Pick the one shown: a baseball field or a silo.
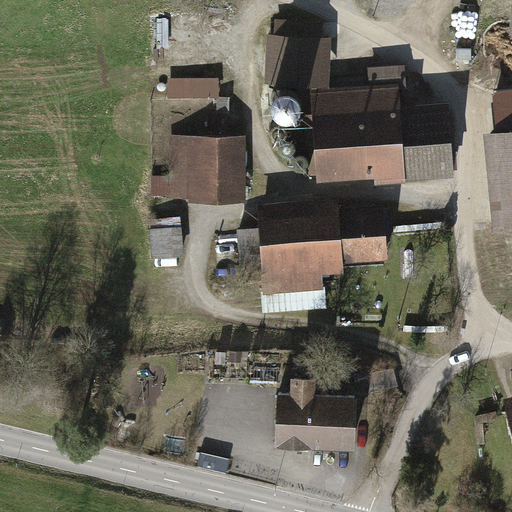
silo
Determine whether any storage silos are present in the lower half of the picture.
No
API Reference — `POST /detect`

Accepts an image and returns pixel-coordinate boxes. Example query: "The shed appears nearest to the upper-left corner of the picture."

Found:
[166,78,218,99]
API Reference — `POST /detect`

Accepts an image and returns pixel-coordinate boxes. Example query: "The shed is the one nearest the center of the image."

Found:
[237,227,260,264]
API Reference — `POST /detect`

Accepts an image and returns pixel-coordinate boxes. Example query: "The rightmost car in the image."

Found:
[448,350,471,364]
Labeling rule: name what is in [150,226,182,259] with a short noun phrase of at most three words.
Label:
shed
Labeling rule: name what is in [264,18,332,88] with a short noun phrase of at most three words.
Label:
barn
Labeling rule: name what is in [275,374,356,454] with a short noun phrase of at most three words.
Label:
house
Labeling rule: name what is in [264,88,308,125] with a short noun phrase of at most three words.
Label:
silo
